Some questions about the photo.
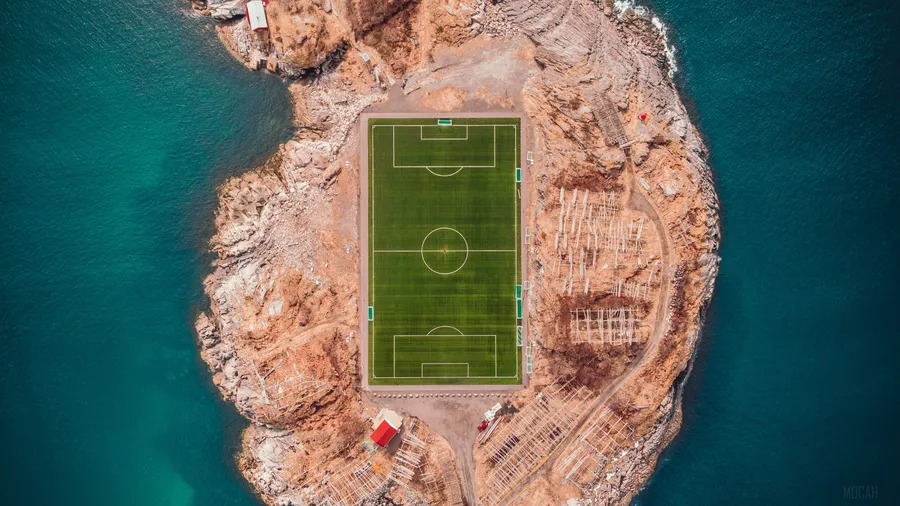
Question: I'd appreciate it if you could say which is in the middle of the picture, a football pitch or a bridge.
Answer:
football pitch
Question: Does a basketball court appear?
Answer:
No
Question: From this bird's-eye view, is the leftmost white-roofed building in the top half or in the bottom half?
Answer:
top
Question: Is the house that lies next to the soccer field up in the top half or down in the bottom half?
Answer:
bottom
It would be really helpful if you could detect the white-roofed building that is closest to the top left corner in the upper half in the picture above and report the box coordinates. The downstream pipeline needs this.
[249,3,270,35]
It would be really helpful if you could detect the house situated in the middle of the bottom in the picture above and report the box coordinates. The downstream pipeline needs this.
[371,402,407,446]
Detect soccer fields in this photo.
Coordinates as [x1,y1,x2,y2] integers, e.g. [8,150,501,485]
[367,119,522,385]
